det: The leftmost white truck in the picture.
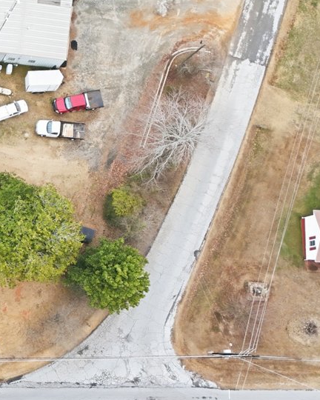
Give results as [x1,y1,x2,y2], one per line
[0,99,30,124]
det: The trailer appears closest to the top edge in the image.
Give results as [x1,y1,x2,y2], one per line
[22,67,68,92]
